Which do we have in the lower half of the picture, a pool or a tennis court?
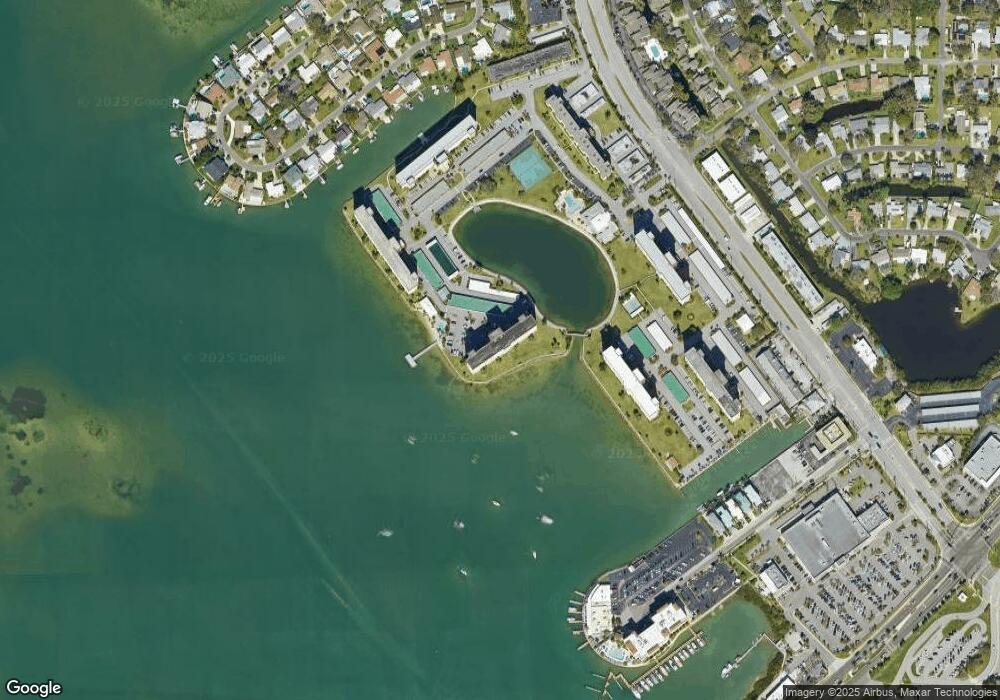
pool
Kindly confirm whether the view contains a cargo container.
No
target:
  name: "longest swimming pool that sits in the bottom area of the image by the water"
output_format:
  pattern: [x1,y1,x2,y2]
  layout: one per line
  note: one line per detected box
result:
[589,638,627,663]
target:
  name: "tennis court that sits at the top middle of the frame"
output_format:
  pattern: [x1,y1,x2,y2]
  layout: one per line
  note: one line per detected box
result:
[509,144,553,190]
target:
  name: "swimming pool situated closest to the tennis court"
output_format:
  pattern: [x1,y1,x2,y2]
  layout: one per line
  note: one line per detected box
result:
[555,189,585,214]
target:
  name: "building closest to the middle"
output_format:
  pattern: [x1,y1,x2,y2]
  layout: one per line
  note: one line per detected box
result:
[467,312,538,376]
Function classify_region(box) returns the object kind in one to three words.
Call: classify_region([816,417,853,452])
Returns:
building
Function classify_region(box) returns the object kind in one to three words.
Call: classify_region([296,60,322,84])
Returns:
house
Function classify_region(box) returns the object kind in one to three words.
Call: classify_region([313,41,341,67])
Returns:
house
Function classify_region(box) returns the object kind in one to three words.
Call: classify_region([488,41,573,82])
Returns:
building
